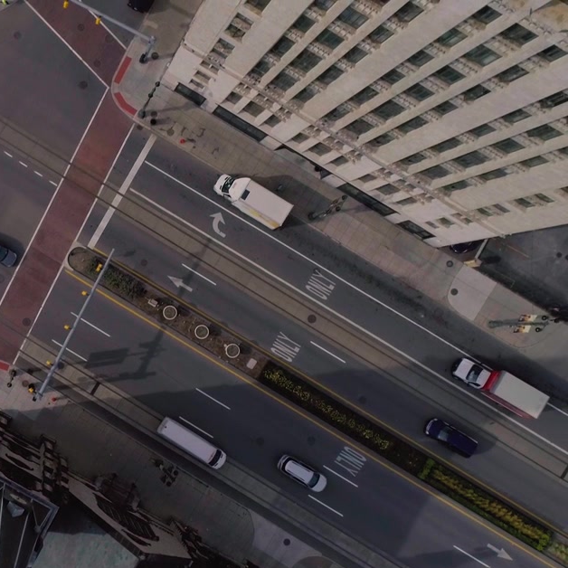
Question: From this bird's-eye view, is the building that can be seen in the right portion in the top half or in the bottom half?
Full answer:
Seen from above, the building that can be seen in the right portion lies in the top half of the view.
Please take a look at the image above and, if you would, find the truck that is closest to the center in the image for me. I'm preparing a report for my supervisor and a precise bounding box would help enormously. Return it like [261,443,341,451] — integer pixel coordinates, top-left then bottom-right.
[213,175,293,229]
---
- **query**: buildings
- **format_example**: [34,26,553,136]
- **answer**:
[162,0,568,249]
[0,406,207,568]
